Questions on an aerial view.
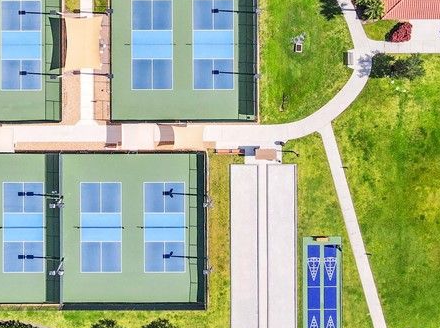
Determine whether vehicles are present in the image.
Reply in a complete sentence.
No, no vehicle can be seen from above.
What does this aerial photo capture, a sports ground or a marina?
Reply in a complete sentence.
The picture captures a sports ground.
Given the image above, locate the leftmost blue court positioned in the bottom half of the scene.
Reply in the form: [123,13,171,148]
[0,182,48,273]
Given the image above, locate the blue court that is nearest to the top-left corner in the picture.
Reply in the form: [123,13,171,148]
[0,0,46,91]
